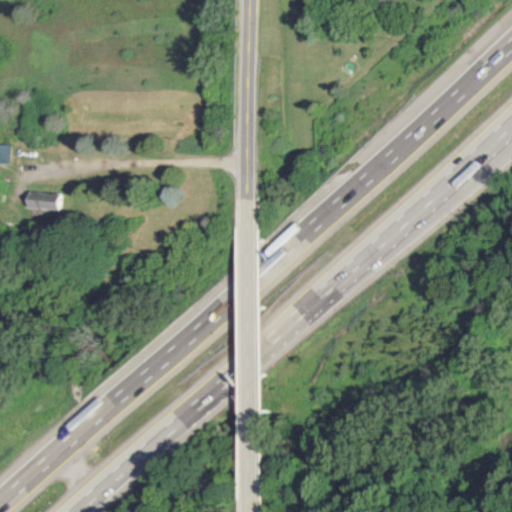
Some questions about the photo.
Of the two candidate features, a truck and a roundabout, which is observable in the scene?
truck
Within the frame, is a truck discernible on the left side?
Yes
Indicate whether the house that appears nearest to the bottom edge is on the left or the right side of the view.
left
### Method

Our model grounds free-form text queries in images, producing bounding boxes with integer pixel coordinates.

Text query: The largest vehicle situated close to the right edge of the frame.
[454,152,488,183]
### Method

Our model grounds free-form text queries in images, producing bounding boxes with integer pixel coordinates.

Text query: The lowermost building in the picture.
[27,192,64,213]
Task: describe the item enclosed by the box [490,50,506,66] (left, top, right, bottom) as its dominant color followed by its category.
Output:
white vehicle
